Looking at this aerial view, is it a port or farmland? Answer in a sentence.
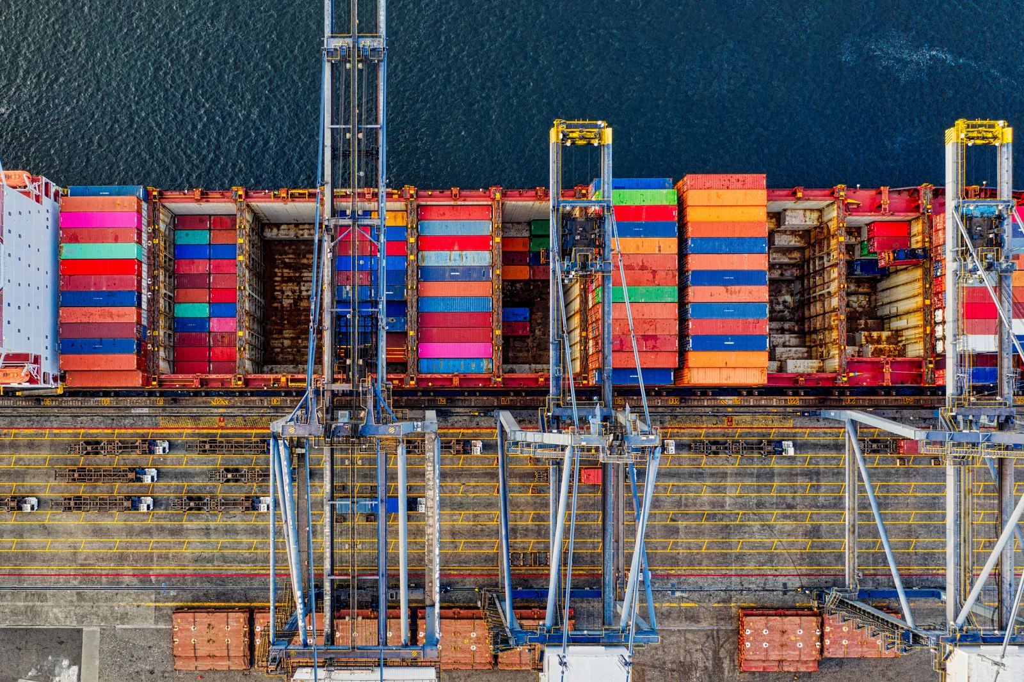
The picture captures a port.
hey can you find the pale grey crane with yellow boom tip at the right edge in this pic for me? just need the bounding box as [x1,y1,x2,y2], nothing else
[797,116,1024,682]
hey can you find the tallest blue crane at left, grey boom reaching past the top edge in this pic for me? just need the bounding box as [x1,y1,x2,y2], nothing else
[251,0,456,682]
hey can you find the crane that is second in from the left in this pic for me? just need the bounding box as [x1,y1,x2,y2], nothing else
[469,116,669,682]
